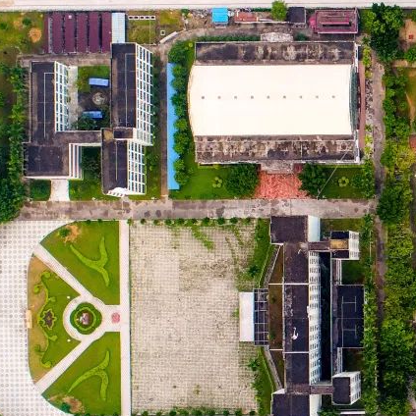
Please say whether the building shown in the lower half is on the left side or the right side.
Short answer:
right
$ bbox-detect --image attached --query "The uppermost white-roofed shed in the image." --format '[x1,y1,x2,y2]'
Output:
[112,12,127,43]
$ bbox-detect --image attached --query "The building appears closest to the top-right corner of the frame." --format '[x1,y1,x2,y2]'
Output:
[310,9,359,35]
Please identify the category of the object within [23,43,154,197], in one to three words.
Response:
building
